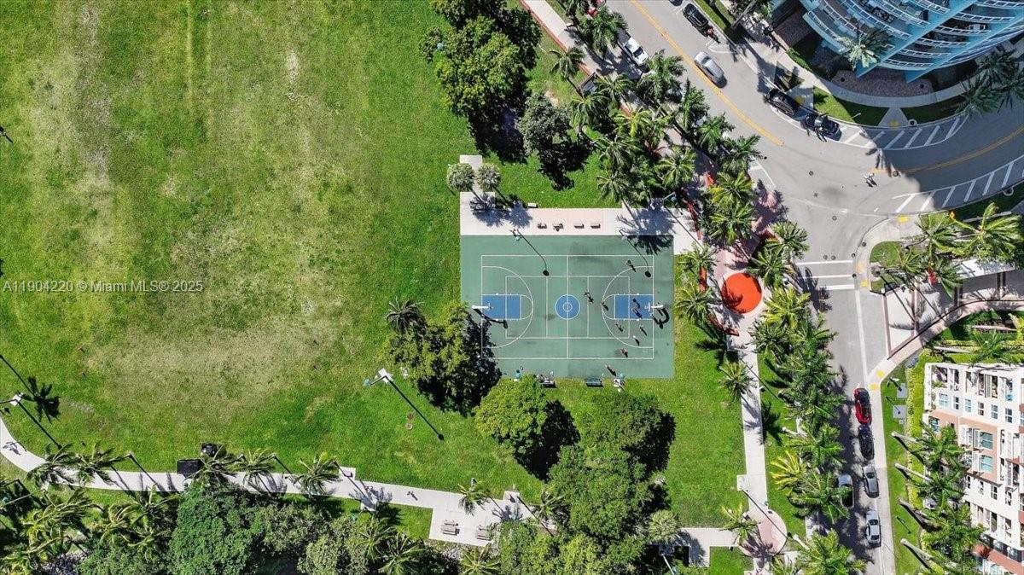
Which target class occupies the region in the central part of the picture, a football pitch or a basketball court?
basketball court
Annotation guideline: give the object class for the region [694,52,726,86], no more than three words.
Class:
car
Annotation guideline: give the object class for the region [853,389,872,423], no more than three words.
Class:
car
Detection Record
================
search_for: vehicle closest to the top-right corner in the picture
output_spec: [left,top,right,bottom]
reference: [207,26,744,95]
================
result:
[803,113,842,140]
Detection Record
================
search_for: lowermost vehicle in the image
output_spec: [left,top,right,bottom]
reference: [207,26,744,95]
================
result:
[864,511,882,545]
